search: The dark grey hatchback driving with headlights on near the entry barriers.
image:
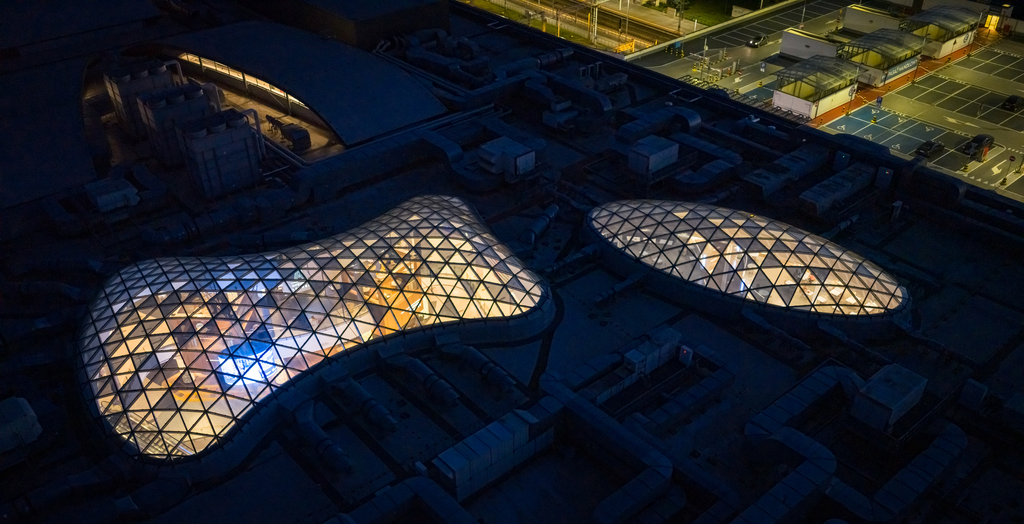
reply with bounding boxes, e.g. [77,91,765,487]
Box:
[746,30,771,46]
